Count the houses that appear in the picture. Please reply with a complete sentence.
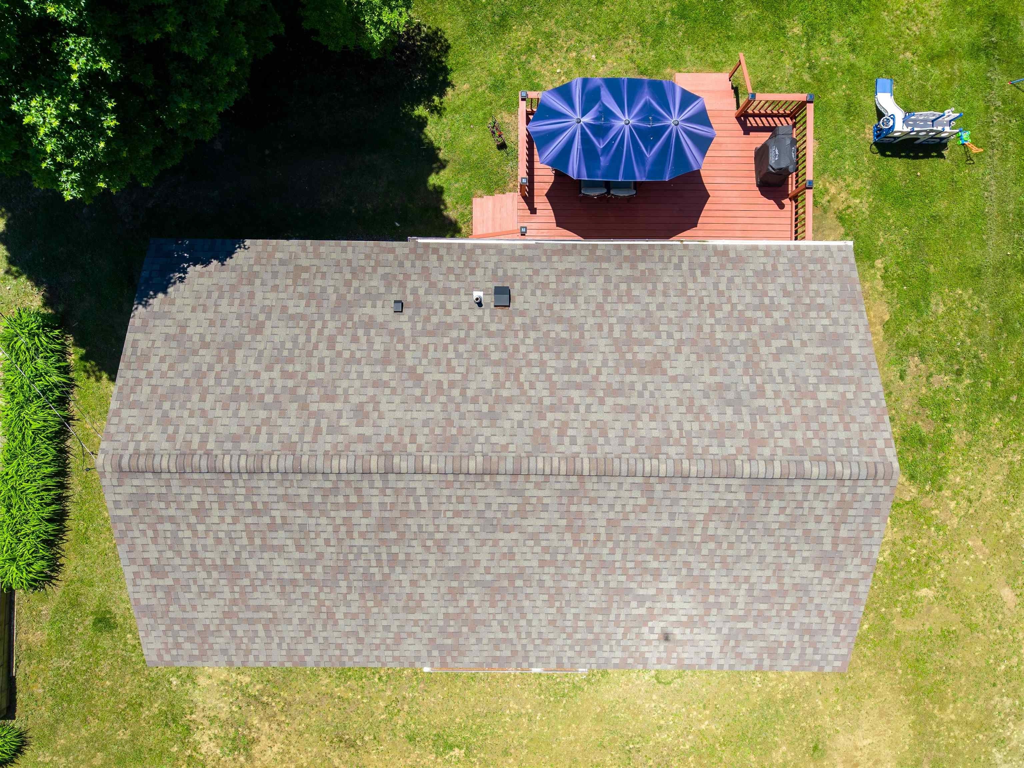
Altogether the scene contains 1 house.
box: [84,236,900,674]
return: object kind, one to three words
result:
house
